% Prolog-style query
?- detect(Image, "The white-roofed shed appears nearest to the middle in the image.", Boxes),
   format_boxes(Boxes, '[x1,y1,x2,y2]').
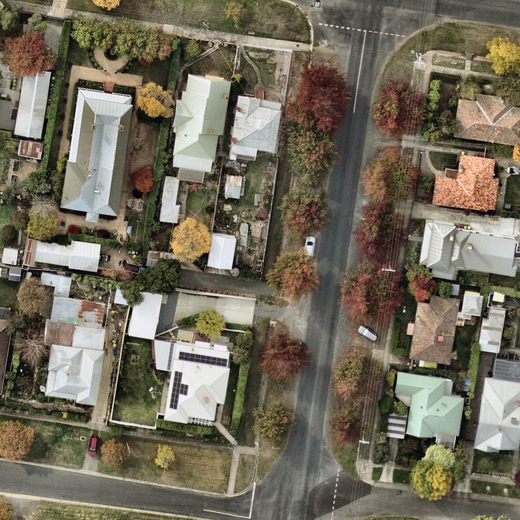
[208,234,237,270]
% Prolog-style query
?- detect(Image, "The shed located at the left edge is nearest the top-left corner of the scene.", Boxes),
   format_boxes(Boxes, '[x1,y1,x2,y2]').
[13,71,51,139]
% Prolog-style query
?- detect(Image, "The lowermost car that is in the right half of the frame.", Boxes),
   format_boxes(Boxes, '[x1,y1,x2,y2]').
[357,325,378,343]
